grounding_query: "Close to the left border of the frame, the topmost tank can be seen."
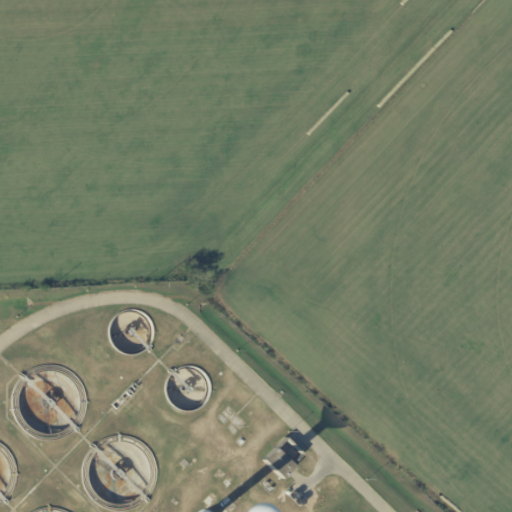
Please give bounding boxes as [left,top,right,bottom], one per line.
[11,364,88,440]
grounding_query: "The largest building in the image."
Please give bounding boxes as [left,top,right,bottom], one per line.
[264,437,307,478]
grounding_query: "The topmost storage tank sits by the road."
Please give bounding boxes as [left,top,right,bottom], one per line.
[108,308,156,355]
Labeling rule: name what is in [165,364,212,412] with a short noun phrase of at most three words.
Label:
storage tank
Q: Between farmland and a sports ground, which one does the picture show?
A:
farmland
